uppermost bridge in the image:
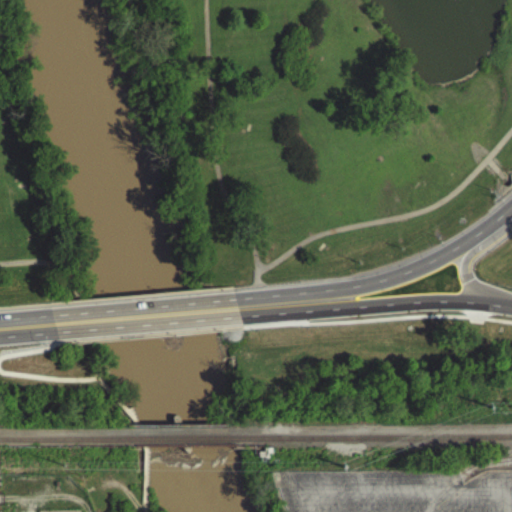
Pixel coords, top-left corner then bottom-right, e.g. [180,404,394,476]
[52,288,244,346]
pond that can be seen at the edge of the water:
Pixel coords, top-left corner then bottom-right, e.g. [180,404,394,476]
[376,0,503,86]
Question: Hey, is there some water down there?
Yes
